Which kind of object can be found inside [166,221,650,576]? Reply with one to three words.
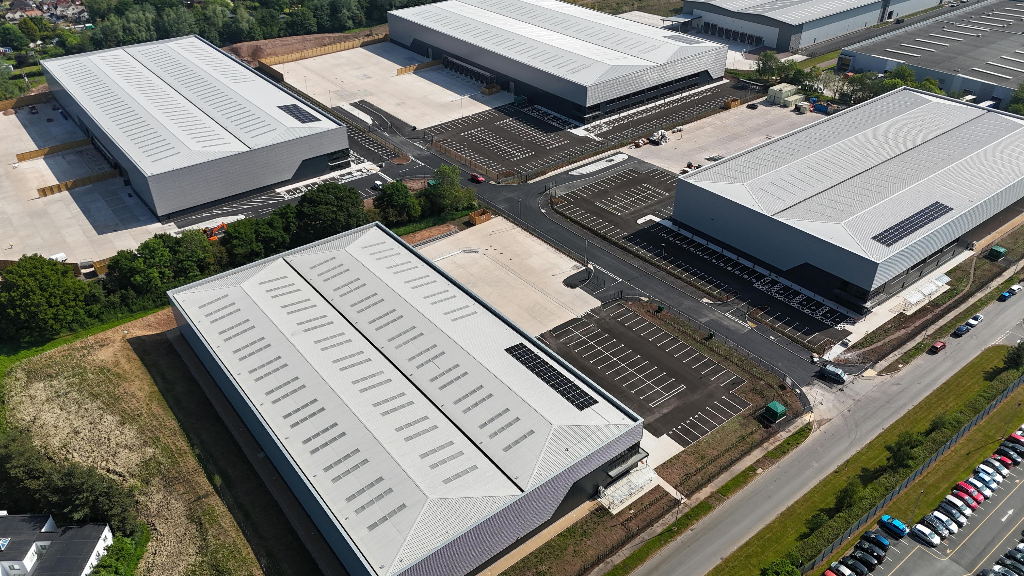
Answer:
warehouse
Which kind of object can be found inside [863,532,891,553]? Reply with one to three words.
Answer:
car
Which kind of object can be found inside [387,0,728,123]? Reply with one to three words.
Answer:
warehouse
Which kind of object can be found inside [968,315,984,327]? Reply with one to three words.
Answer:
vehicle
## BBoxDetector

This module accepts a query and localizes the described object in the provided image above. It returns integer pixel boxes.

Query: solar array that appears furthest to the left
[277,104,320,122]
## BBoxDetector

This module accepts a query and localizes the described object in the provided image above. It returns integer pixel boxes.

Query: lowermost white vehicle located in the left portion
[48,250,69,263]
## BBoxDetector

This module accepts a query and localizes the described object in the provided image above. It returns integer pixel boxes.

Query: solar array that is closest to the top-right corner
[871,200,953,247]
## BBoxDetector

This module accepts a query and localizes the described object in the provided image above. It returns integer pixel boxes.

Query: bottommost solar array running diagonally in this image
[504,344,599,410]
